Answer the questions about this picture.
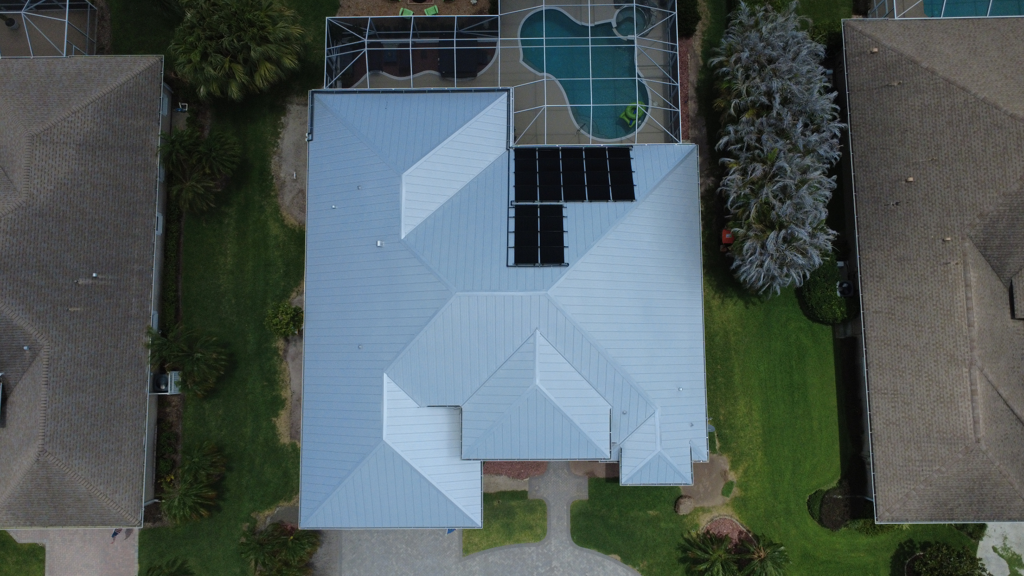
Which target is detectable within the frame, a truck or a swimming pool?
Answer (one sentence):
Visible in the photo is a swimming pool.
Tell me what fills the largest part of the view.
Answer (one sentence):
The largest share of the image is taken up by buildings.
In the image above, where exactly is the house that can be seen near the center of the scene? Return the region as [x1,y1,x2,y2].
[299,88,709,530]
